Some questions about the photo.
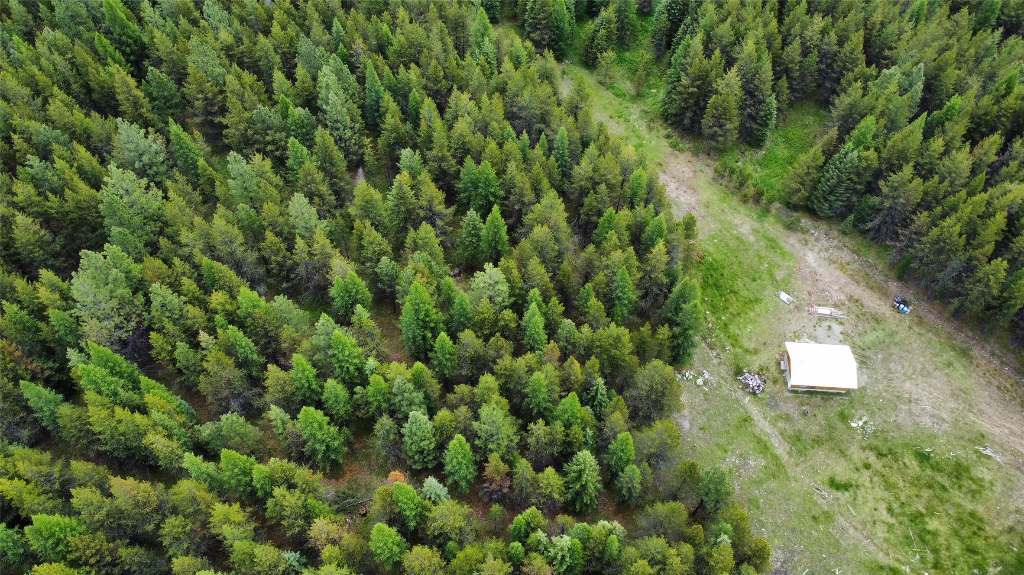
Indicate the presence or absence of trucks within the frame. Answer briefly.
No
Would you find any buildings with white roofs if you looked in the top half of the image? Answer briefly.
No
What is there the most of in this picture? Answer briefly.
trees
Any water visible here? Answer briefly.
No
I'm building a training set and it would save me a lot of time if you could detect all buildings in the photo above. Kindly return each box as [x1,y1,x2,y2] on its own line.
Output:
[782,342,857,393]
